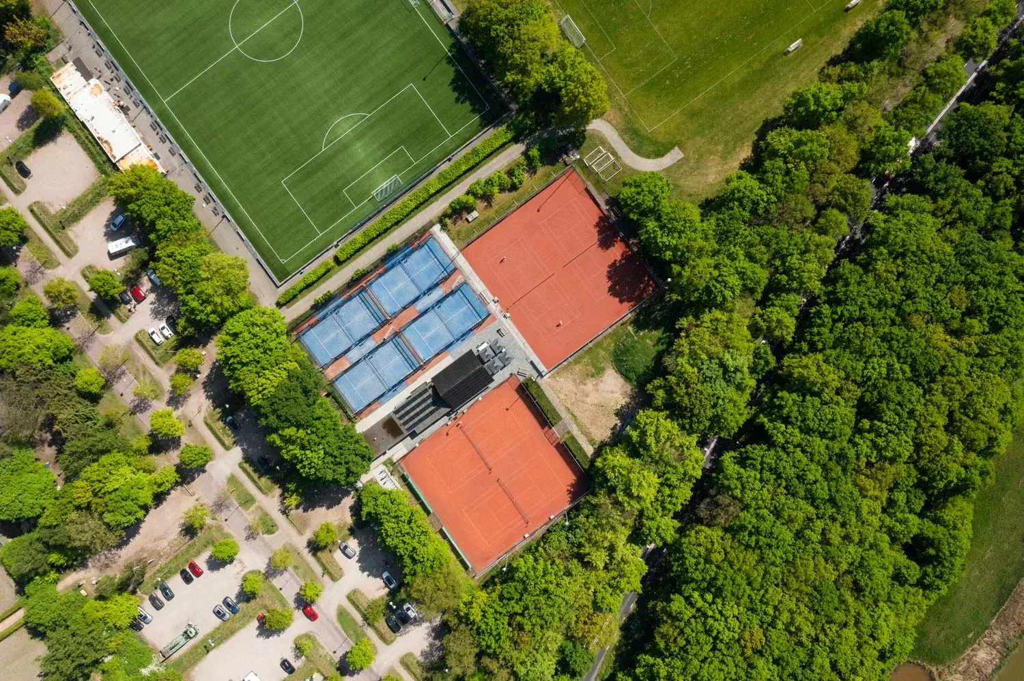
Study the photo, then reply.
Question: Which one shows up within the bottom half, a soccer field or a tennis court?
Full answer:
The one visible within the bottom half is a tennis court.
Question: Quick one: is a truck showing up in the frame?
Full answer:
Yes, looking at the shot, I can spot a truck.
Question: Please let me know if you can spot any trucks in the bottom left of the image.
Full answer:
Yes, a truck appears in the bottom left of the image.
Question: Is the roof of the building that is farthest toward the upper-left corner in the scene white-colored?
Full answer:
Yes, the roof of the building that is farthest toward the upper-left corner appears white.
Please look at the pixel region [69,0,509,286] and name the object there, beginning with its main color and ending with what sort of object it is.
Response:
green soccer field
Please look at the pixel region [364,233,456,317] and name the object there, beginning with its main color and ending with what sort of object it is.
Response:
blue sports court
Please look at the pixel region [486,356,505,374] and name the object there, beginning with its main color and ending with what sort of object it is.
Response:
gray umbrella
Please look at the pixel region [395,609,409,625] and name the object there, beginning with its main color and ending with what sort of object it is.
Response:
black car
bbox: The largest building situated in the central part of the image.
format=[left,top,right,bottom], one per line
[364,350,494,457]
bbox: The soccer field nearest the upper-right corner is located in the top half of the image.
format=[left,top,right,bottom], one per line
[554,0,831,132]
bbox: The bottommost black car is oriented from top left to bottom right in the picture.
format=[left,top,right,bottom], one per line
[280,658,295,676]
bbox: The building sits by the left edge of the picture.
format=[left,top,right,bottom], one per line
[50,53,174,191]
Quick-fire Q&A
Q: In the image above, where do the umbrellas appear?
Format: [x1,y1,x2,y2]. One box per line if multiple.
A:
[486,356,505,374]
[477,345,496,363]
[488,336,507,354]
[497,347,516,366]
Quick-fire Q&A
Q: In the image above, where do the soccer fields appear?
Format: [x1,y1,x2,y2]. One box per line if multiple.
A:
[554,0,831,132]
[69,0,509,286]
